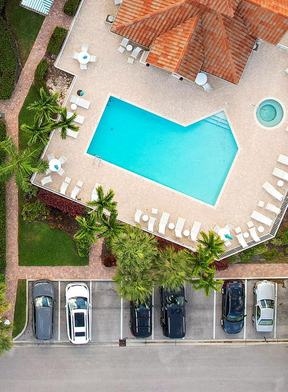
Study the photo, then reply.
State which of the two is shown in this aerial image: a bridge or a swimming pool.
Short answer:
swimming pool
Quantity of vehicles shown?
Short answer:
6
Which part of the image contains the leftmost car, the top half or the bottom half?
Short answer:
bottom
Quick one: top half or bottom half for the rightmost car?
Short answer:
bottom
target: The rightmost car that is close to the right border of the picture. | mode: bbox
[251,277,278,332]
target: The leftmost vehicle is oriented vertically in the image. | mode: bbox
[30,280,57,339]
